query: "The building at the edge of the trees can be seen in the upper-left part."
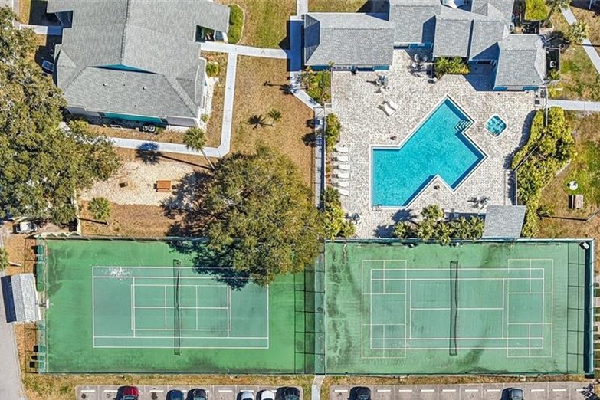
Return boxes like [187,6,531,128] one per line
[49,0,231,129]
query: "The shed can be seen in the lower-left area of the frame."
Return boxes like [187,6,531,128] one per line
[11,273,44,322]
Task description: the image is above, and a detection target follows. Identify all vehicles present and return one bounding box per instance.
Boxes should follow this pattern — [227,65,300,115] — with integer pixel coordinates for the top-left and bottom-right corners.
[170,390,184,400]
[353,387,370,400]
[507,387,525,400]
[190,389,206,400]
[123,387,139,400]
[260,389,274,400]
[241,390,255,400]
[284,387,298,400]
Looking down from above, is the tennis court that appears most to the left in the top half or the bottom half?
bottom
